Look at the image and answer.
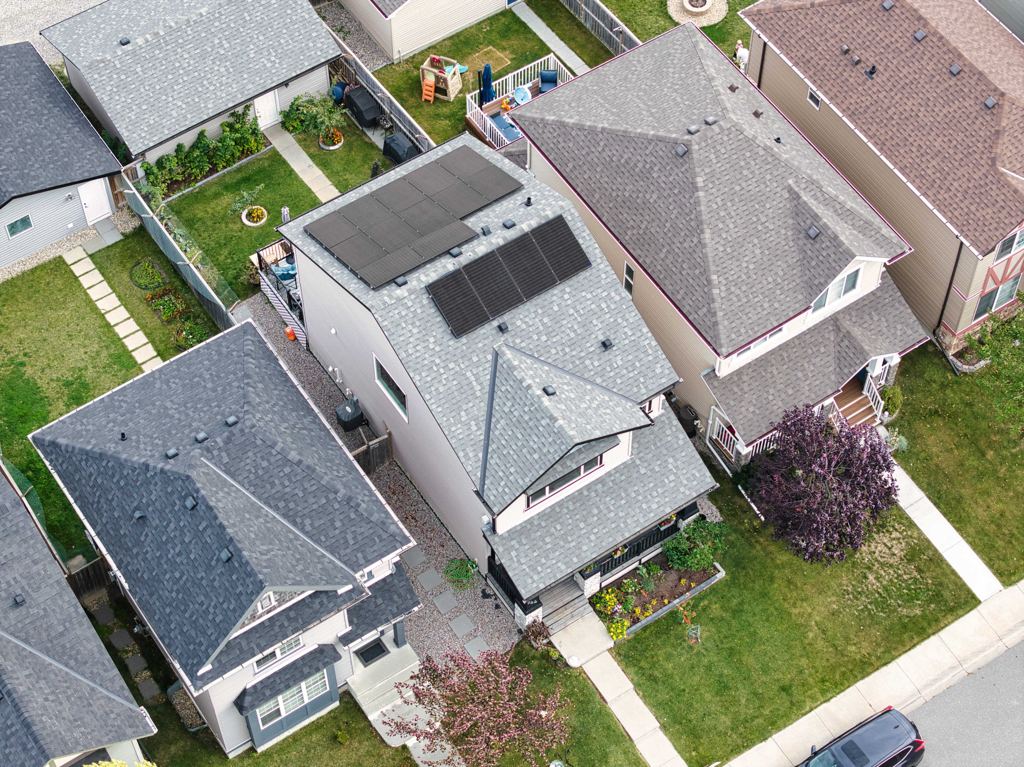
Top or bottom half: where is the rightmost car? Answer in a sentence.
It is in the bottom half that the rightmost car appears.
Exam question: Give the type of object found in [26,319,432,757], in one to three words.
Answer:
house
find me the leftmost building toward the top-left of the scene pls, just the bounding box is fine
[0,39,126,268]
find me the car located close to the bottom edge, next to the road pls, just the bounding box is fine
[796,702,932,767]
